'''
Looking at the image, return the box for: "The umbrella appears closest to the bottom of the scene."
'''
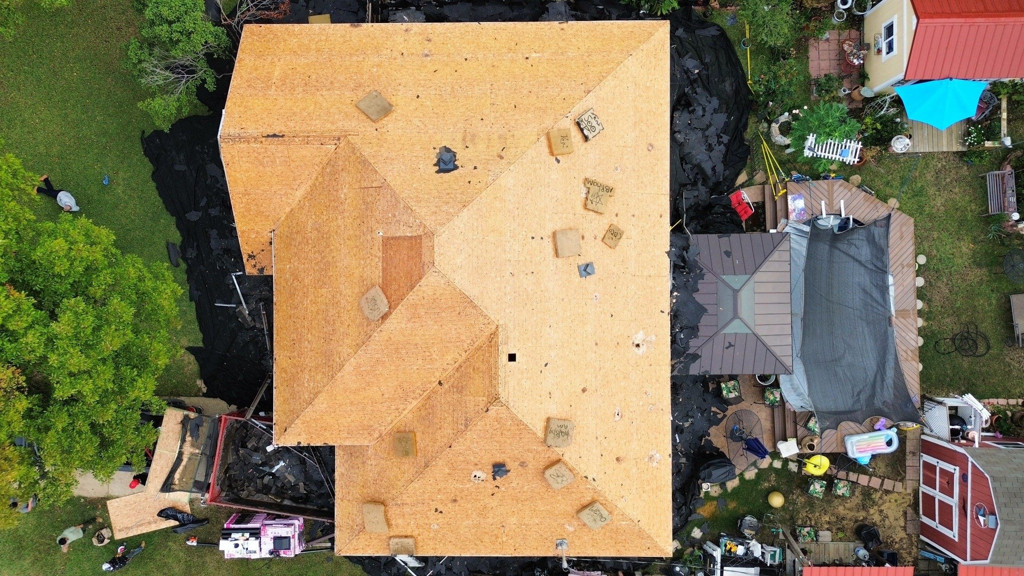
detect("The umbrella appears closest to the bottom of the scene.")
[745,438,773,463]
